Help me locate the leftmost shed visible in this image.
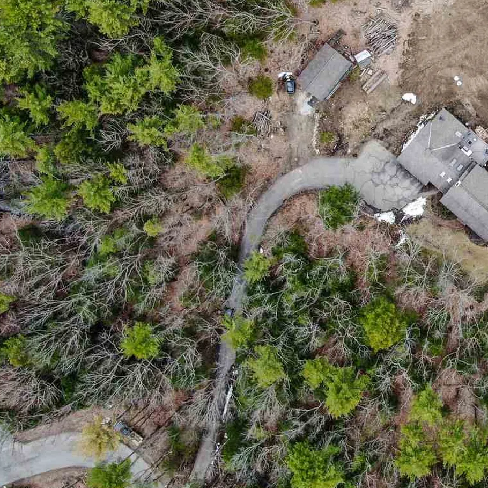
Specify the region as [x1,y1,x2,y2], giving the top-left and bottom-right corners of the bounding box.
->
[298,43,353,100]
